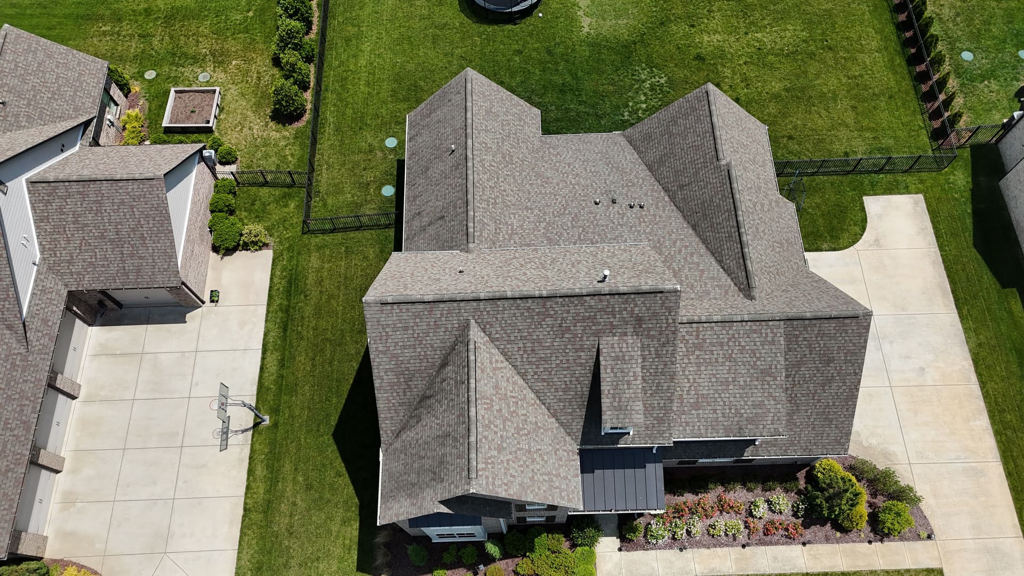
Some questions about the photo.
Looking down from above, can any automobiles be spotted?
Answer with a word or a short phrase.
No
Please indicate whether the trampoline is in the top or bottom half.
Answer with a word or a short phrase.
top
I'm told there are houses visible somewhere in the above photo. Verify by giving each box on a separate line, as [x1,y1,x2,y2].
[0,23,218,559]
[362,67,872,545]
[993,100,1024,256]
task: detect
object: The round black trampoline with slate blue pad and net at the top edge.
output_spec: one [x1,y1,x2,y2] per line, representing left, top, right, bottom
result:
[474,0,539,27]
